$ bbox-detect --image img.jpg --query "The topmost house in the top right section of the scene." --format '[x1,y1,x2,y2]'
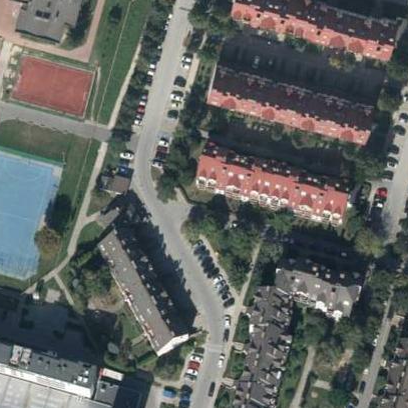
[232,0,397,64]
